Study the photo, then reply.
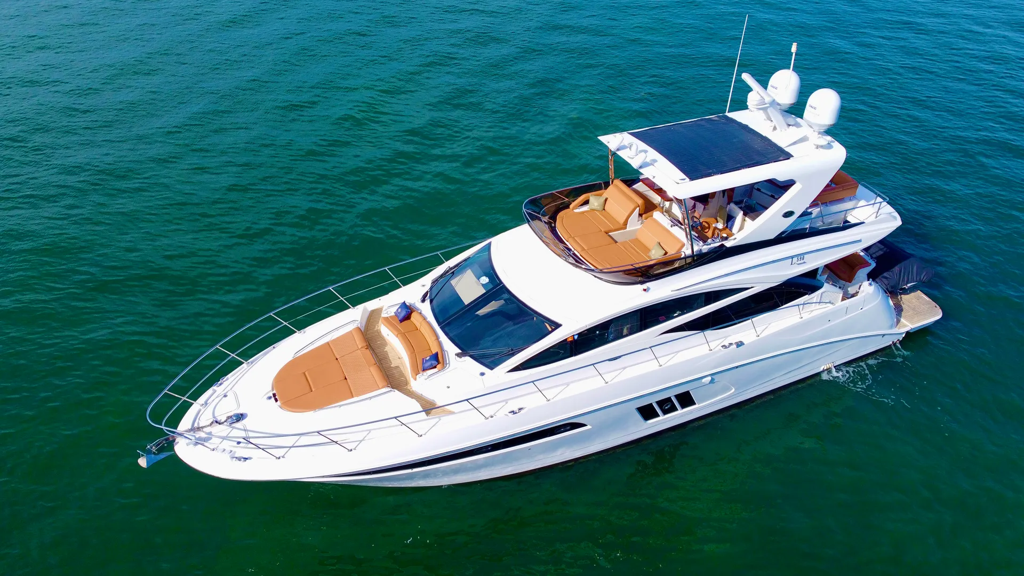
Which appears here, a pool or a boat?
boat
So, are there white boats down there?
Yes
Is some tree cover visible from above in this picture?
No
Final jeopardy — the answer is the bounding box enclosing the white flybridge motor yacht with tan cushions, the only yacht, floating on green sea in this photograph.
[146,15,940,487]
